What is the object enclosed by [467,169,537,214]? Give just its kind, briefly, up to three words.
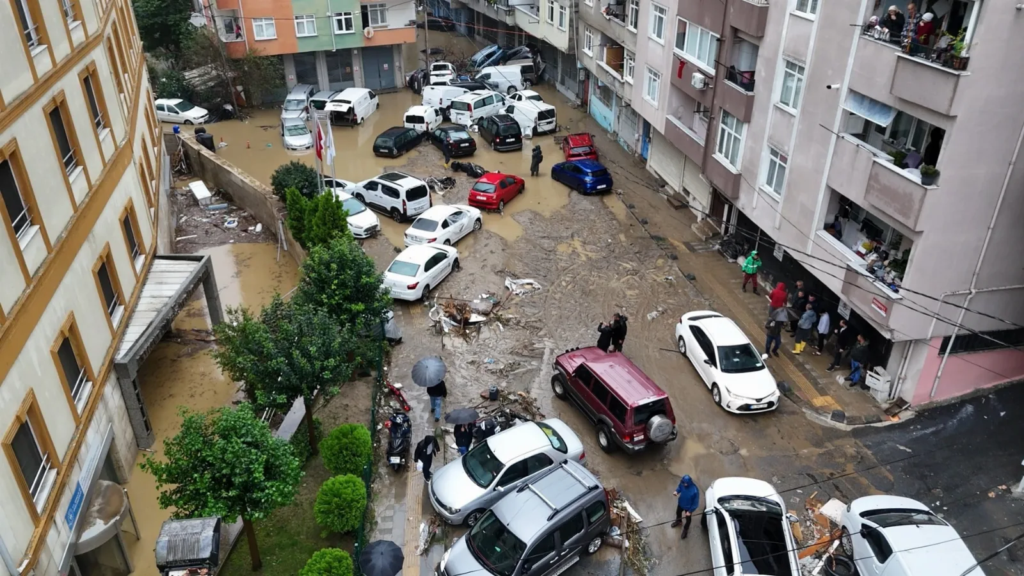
car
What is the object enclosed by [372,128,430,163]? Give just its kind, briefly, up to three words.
car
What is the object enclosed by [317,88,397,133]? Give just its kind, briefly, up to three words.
van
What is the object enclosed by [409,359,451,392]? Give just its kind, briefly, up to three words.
umbrella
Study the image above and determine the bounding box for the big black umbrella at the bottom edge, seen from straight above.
[350,541,412,576]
